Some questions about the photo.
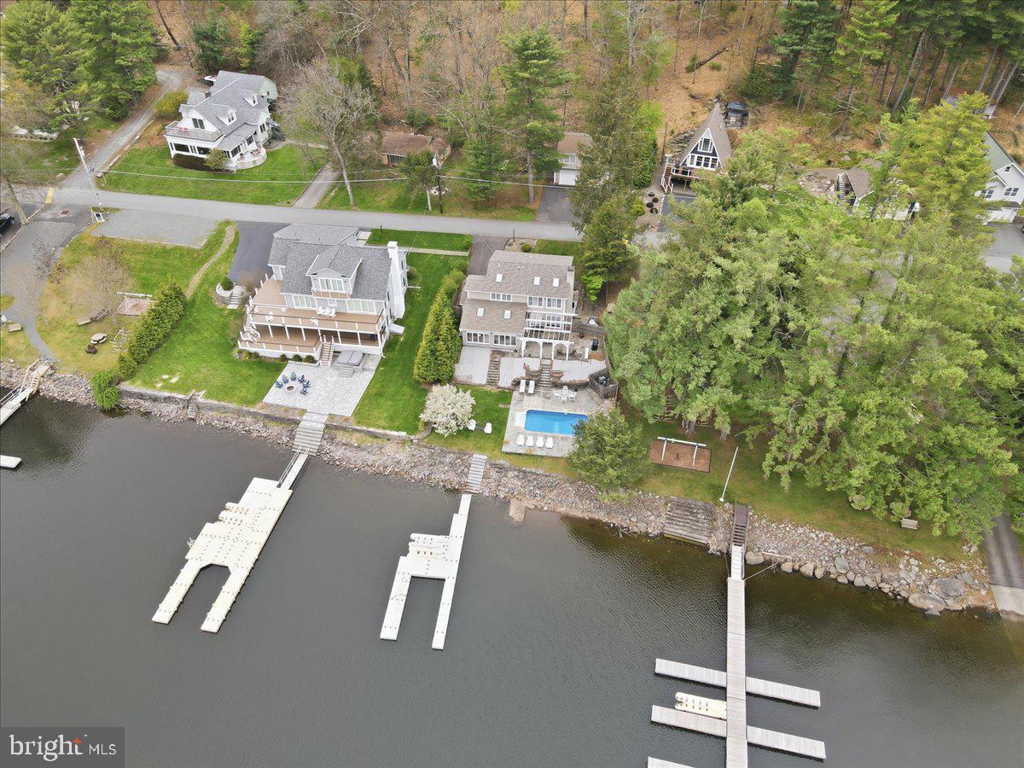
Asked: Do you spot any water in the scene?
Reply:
Yes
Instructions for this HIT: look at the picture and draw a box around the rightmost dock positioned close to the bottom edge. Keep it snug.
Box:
[647,578,825,768]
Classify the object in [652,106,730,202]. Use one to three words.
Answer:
building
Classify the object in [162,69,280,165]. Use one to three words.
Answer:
house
